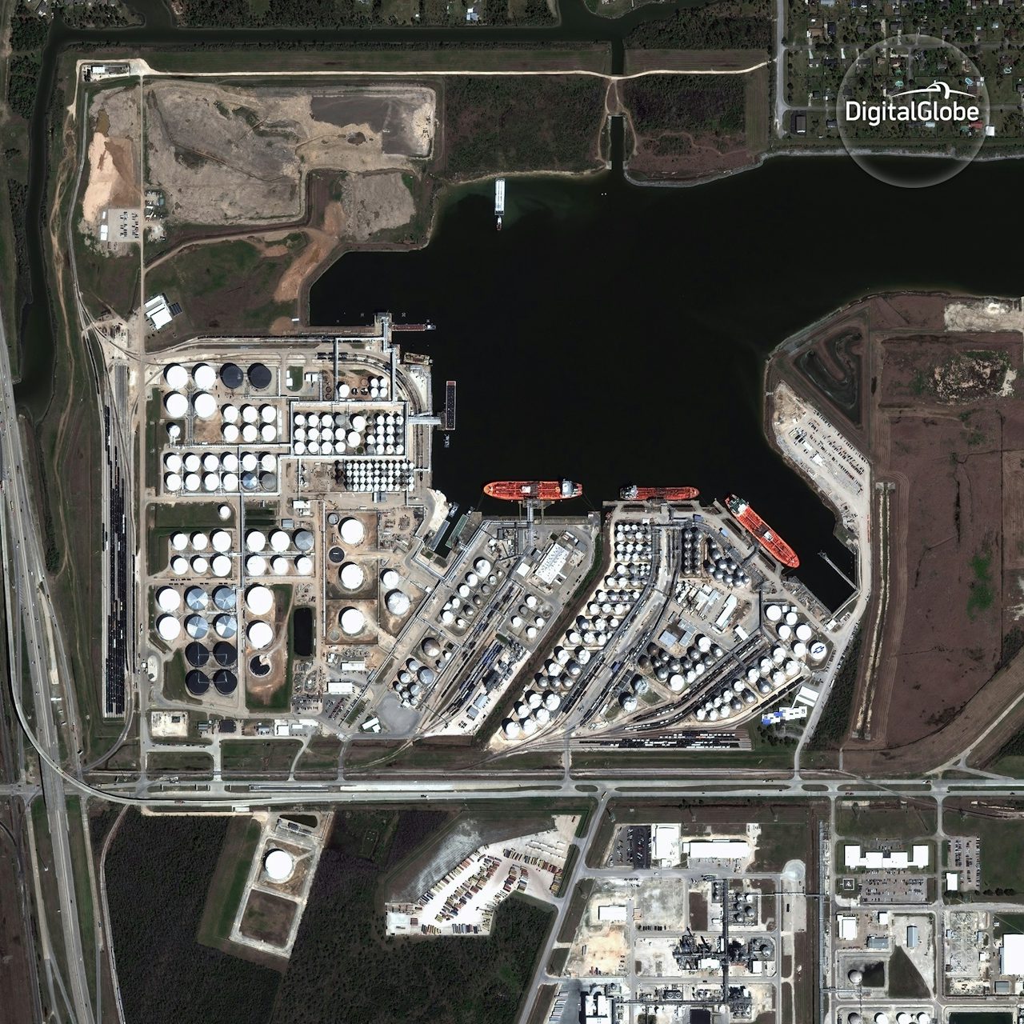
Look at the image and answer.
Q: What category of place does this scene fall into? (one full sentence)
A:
The area seen from above is a port.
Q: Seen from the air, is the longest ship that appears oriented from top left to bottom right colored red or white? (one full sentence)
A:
The longest ship that appears oriented from top left to bottom right looks red in the image.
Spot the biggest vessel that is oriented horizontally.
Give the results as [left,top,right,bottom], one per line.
[484,478,582,499]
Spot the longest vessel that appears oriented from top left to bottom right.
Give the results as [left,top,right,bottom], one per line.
[724,494,798,566]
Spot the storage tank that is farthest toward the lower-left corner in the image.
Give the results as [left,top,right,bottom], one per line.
[265,851,294,881]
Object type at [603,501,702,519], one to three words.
pier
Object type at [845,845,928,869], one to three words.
building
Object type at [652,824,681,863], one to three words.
building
